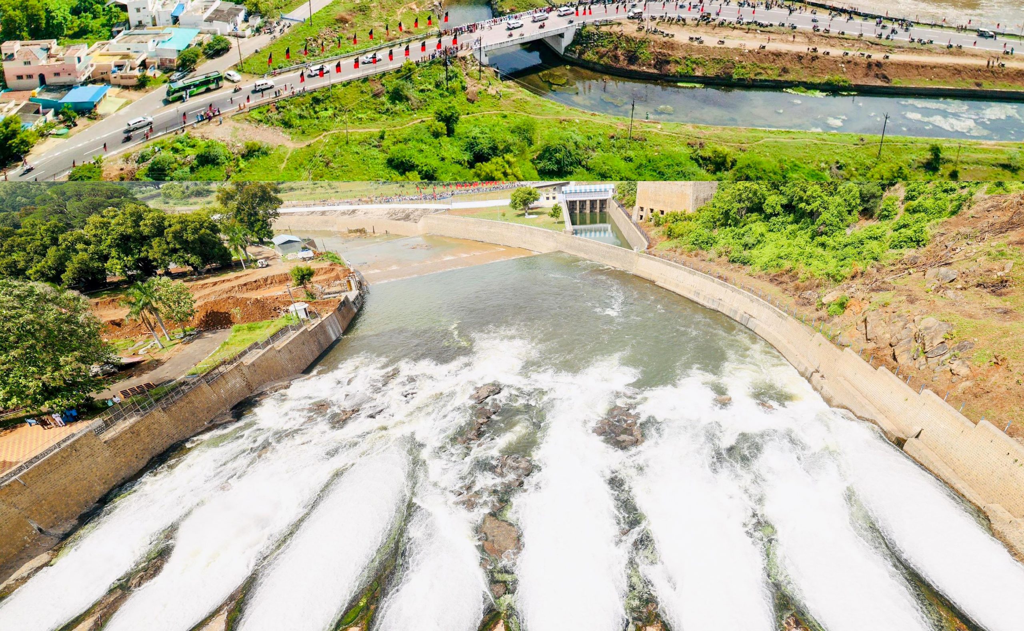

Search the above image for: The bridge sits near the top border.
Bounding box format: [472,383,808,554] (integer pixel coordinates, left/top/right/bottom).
[466,3,586,65]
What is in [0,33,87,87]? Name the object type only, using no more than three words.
house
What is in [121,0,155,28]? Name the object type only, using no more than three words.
house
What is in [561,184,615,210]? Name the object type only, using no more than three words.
building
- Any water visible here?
Yes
